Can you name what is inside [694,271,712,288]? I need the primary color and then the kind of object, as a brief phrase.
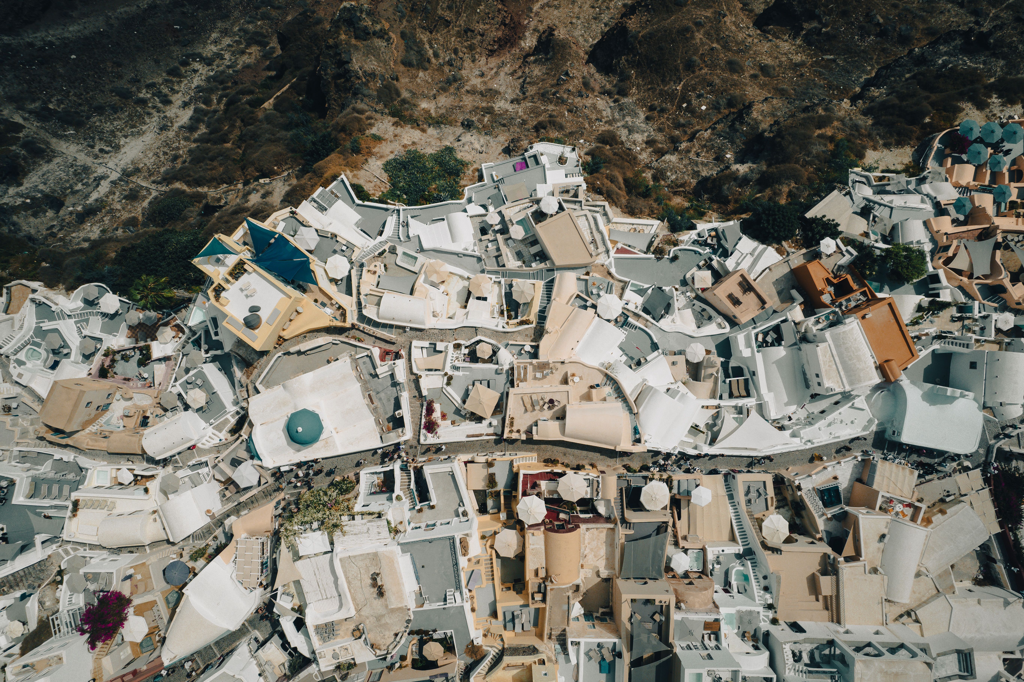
white umbrella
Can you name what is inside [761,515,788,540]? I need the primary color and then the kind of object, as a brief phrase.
white umbrella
